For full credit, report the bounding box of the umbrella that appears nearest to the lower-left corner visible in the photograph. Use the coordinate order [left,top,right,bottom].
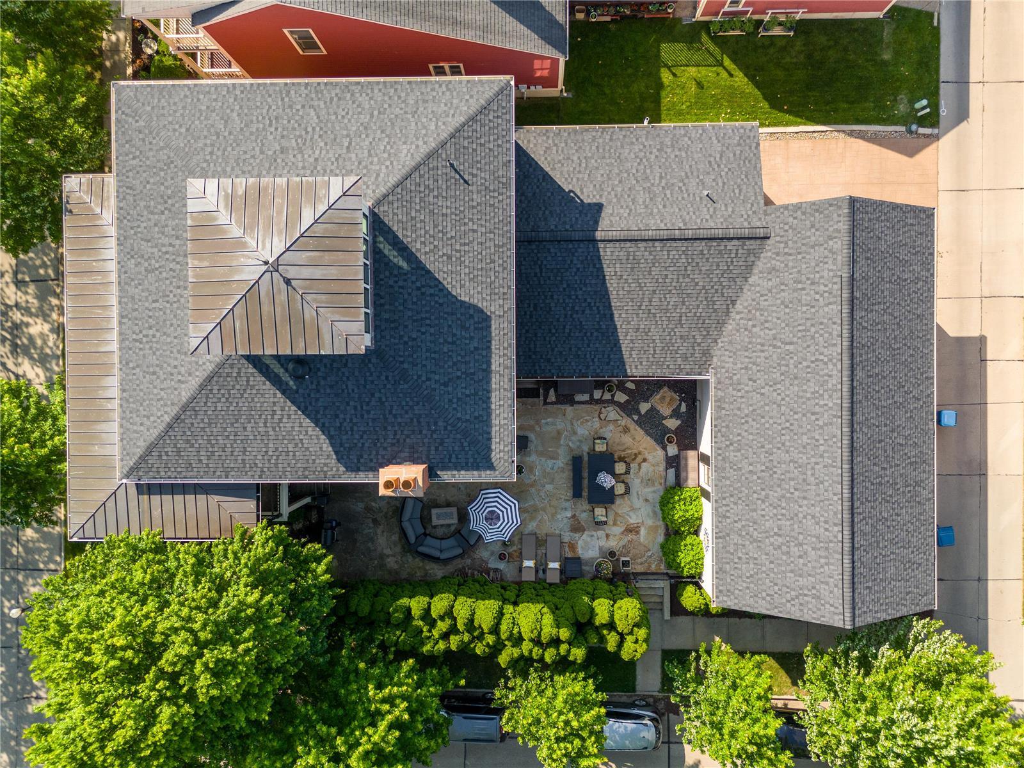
[463,486,522,543]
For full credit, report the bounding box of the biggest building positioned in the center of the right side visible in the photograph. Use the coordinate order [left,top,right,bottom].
[698,195,939,629]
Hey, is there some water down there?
No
